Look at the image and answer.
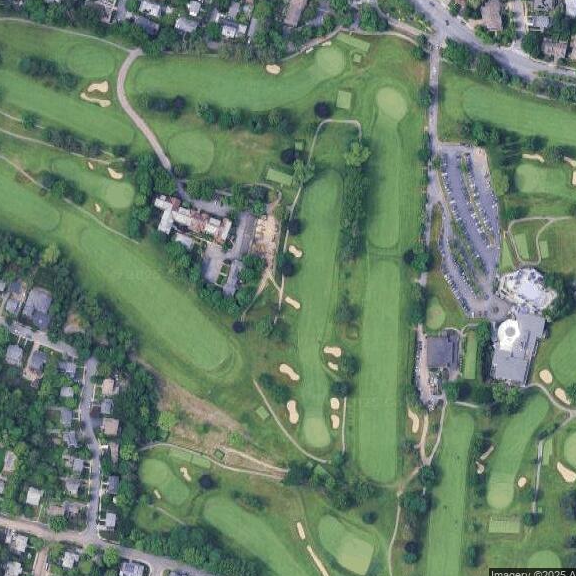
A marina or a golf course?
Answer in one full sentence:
The picture captures a golf course.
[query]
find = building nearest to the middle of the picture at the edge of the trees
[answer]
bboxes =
[235,214,257,254]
